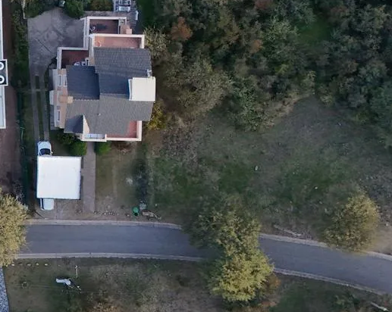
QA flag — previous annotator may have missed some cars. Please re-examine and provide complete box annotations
[37,139,51,156]
[39,199,52,212]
